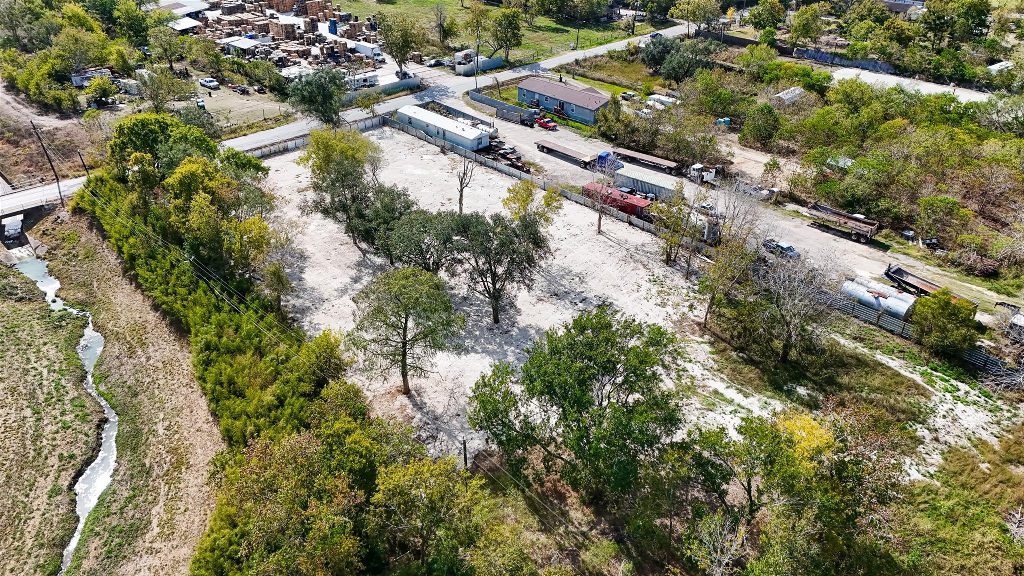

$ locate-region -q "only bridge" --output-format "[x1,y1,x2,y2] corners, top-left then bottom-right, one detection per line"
[0,179,65,238]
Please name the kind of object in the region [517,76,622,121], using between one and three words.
house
